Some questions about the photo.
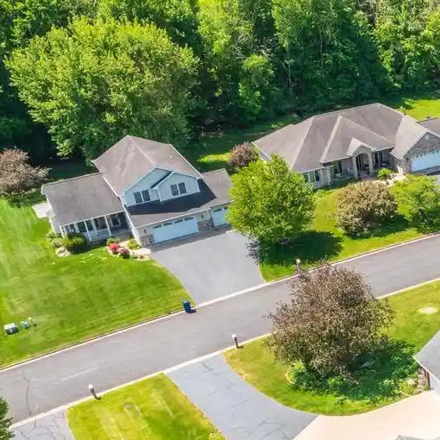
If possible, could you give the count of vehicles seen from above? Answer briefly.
zero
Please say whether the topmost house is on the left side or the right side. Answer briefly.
right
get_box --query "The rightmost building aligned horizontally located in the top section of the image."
[252,104,440,187]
